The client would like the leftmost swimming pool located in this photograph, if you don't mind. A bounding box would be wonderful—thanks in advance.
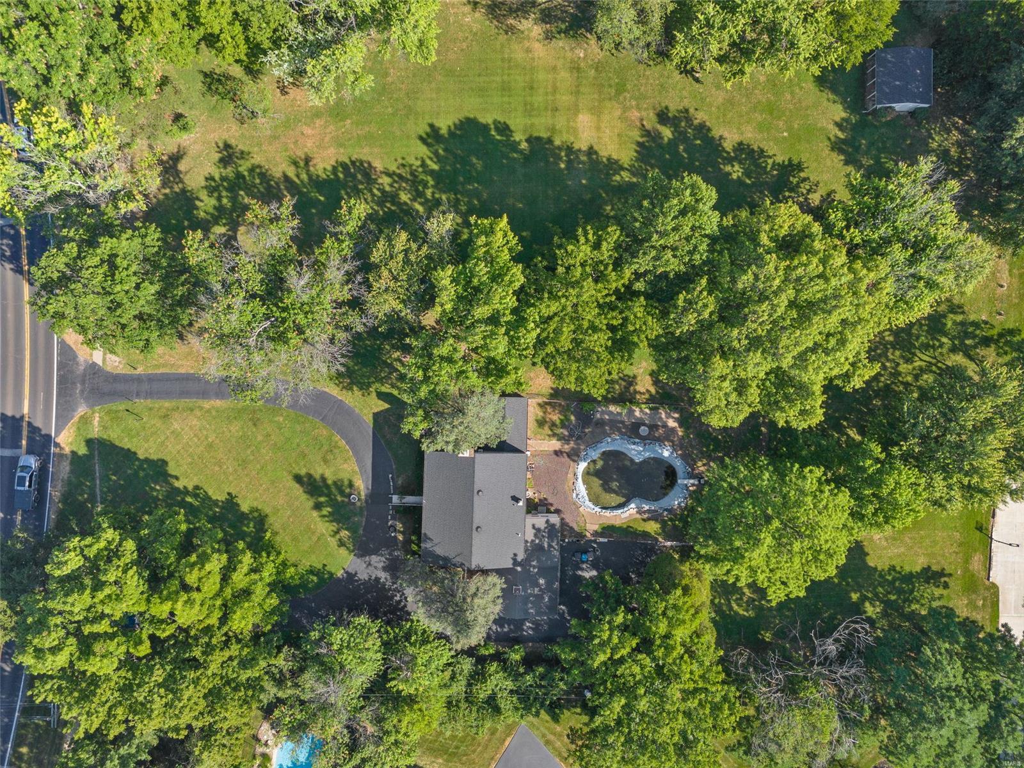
[271,729,329,768]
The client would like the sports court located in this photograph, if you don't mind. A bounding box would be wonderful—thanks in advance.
[992,494,1024,667]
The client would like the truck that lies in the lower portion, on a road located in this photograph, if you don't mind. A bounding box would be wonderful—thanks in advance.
[13,456,42,511]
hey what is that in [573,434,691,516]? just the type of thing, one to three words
swimming pool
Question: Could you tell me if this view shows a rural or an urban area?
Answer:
rural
